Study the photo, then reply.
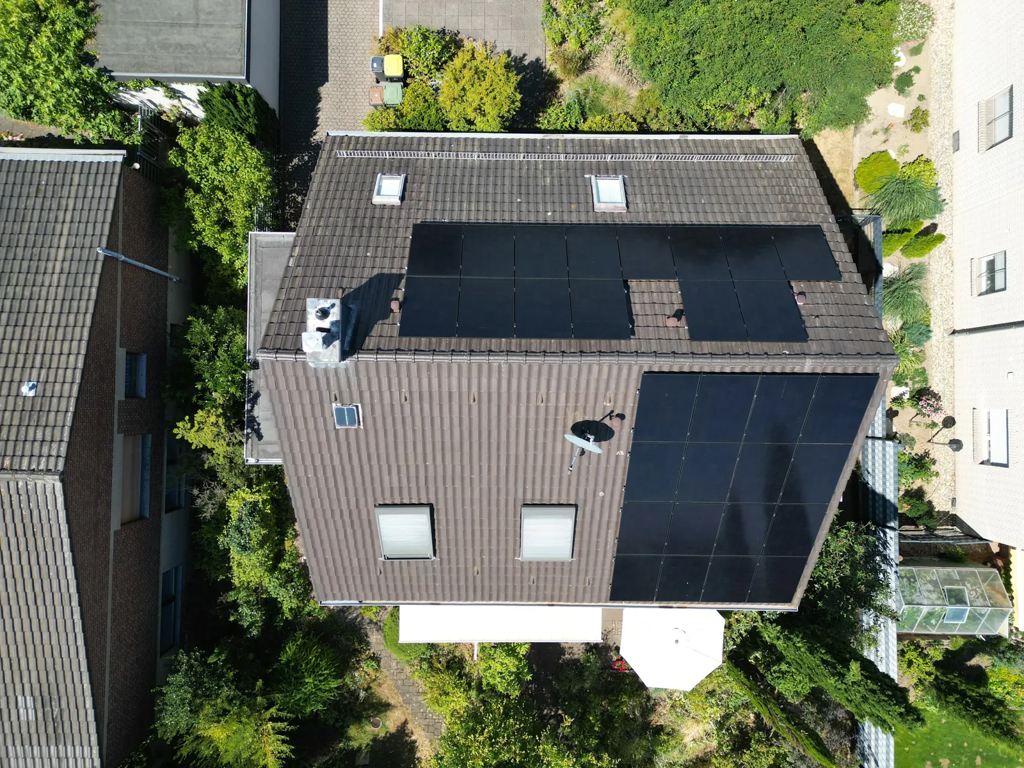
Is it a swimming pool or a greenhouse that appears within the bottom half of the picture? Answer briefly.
greenhouse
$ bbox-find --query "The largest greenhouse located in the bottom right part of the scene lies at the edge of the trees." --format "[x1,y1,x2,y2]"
[901,558,1011,635]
